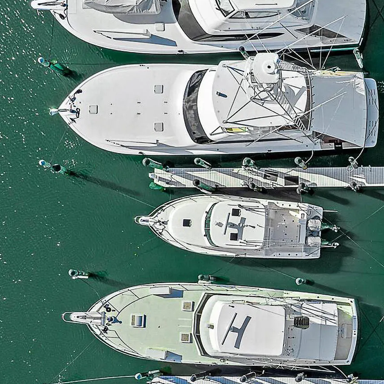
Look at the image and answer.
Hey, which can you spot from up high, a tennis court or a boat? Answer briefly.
boat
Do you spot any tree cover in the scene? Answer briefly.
No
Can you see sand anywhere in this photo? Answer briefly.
No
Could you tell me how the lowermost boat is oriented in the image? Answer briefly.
from left to right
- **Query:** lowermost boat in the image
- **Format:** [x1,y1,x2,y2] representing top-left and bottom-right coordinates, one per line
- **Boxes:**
[62,281,358,372]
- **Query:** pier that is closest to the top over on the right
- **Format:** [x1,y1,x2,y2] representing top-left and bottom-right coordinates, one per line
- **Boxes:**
[151,166,384,190]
